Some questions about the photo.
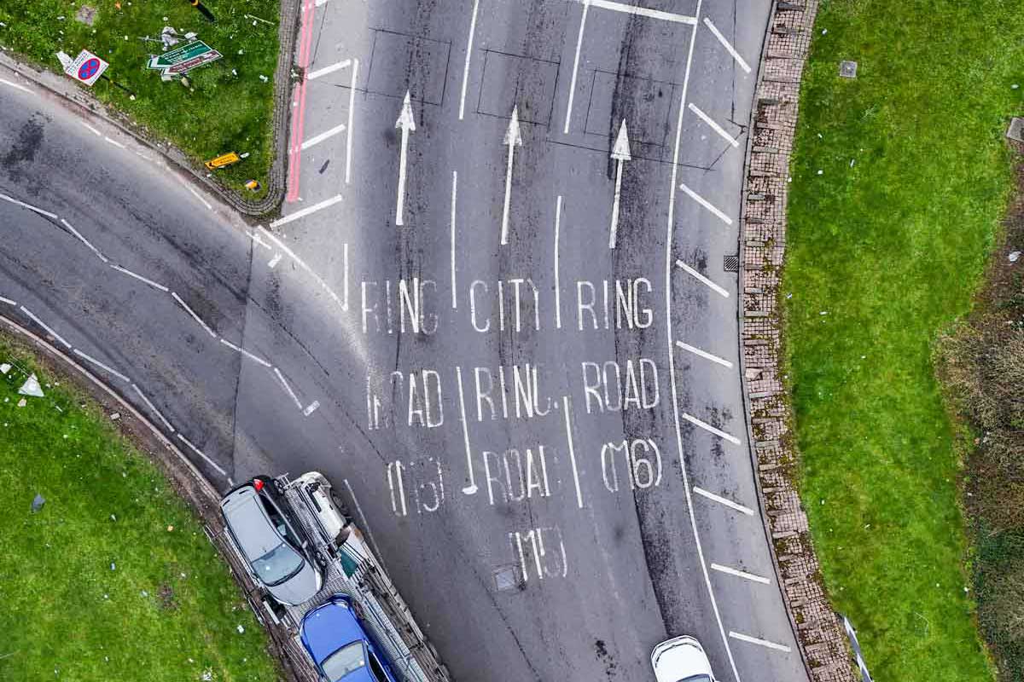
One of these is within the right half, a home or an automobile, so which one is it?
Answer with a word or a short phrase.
automobile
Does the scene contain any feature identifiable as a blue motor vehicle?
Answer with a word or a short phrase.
Yes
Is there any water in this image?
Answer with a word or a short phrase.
No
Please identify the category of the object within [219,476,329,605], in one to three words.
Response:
car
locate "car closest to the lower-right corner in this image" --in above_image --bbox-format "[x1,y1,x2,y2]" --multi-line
[653,635,717,682]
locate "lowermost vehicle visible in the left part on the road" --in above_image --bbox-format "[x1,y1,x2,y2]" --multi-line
[301,599,407,682]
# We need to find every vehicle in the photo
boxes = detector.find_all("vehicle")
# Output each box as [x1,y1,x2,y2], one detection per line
[219,476,329,605]
[653,635,717,682]
[301,599,407,682]
[220,471,446,682]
